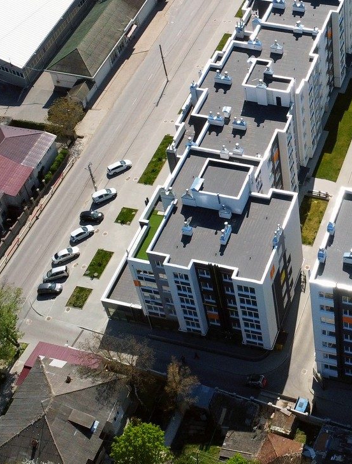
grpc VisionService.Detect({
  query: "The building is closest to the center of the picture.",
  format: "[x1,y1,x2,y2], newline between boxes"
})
[101,149,303,350]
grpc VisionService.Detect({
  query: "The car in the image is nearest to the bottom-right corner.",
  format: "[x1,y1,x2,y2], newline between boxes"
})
[292,392,311,420]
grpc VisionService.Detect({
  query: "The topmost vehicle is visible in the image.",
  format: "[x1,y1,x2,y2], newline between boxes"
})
[104,157,134,176]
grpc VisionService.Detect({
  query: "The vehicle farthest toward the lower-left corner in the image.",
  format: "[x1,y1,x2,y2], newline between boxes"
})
[32,279,66,296]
